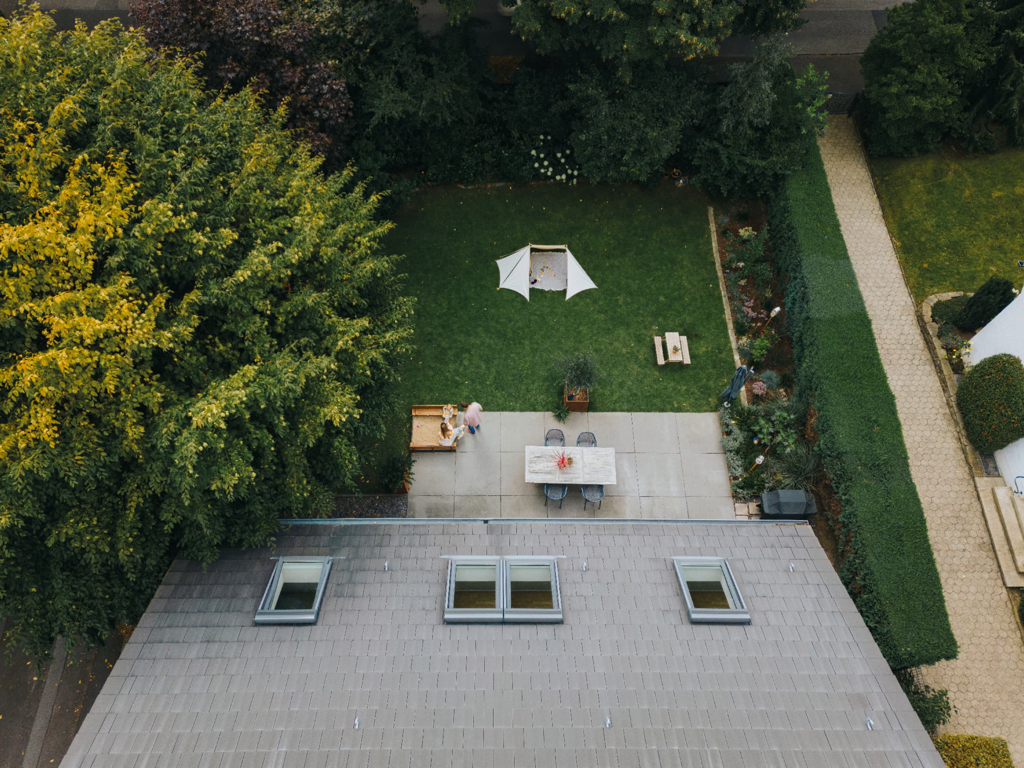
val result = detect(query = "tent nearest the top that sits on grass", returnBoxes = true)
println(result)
[496,242,597,302]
